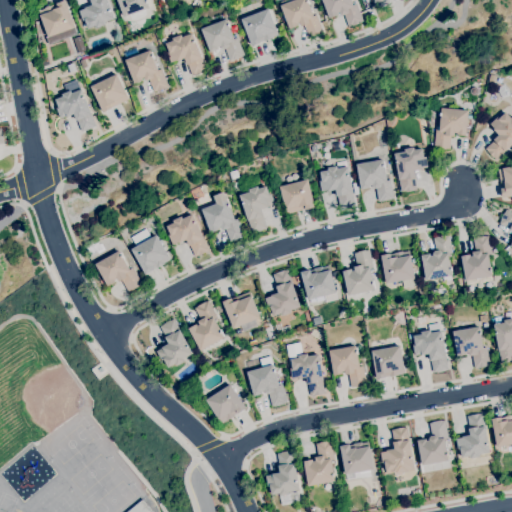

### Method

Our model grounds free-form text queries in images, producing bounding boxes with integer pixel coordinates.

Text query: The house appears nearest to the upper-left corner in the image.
[39,0,78,44]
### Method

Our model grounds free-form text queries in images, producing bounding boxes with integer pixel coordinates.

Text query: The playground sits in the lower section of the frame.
[2,446,57,502]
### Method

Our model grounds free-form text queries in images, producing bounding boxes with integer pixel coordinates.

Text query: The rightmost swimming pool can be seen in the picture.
[204,374,224,390]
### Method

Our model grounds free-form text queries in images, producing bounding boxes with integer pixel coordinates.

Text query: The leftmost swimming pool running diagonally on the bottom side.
[178,362,196,380]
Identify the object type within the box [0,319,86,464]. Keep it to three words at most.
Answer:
sports field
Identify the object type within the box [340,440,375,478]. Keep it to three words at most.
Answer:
house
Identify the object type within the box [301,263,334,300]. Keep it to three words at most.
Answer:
house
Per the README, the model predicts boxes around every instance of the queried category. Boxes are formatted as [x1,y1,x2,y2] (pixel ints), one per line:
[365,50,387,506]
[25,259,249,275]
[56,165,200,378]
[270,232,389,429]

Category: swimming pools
[92,38,113,48]
[204,374,224,390]
[120,48,139,60]
[178,362,196,380]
